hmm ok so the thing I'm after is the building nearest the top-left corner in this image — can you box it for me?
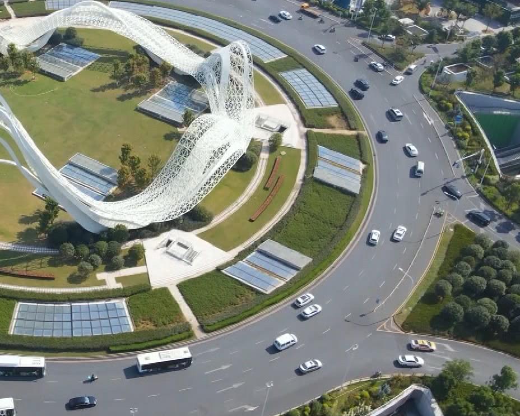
[37,42,100,83]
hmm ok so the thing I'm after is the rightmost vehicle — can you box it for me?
[466,210,492,225]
